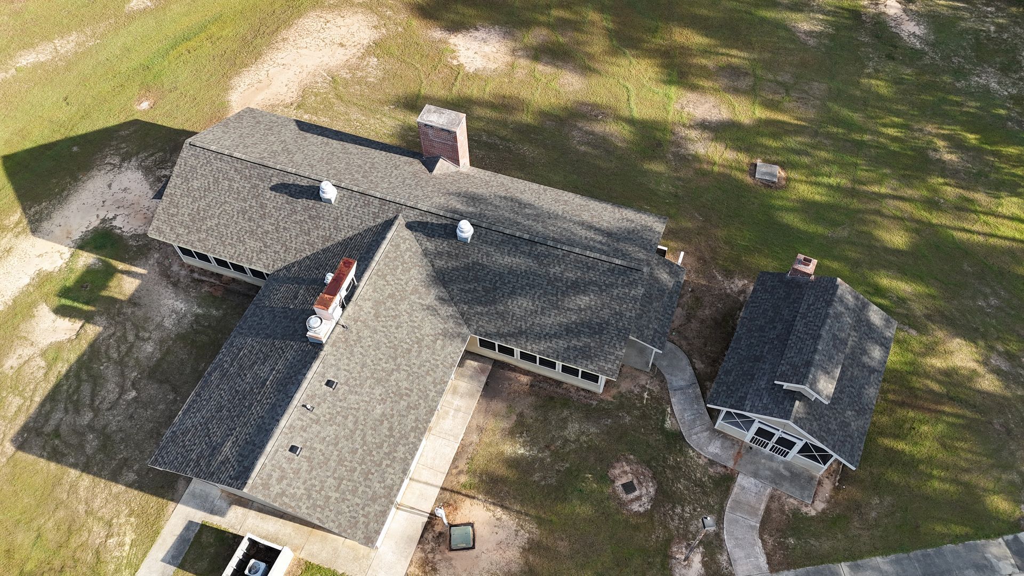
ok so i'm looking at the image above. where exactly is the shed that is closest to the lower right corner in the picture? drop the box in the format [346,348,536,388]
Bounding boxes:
[705,253,896,474]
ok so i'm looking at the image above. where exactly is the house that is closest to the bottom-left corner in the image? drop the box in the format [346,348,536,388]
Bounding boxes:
[148,105,686,551]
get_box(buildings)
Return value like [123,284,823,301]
[705,253,896,474]
[148,105,686,551]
